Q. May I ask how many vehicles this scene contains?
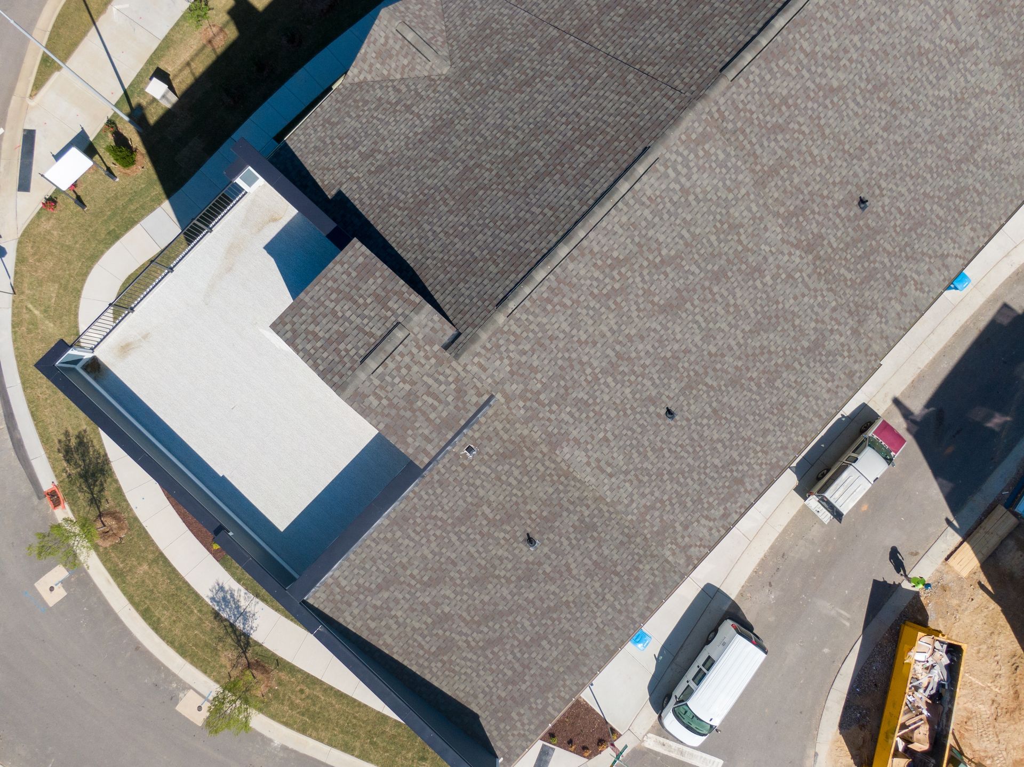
2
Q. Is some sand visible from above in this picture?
No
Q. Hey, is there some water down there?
No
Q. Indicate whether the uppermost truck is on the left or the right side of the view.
right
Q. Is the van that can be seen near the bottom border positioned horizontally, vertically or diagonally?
diagonally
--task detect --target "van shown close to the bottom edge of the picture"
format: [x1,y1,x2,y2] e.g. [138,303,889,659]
[656,616,770,746]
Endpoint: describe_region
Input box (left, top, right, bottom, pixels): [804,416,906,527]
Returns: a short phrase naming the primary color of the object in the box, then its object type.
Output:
white truck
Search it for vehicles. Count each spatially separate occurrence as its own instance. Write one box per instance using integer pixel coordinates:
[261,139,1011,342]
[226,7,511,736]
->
[804,416,906,527]
[656,616,770,746]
